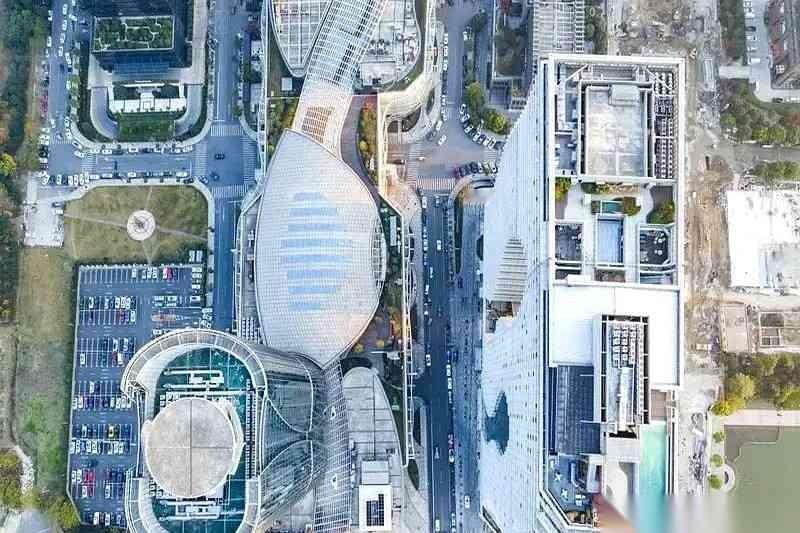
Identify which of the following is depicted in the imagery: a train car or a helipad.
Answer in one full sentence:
The one in the frame is a helipad.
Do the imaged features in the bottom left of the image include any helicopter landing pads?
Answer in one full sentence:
Yes, I can see a helicopter landing pad in the bottom left of the image.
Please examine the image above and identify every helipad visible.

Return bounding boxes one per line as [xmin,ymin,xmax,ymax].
[141,394,252,498]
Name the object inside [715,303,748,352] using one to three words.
building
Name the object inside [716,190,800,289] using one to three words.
building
